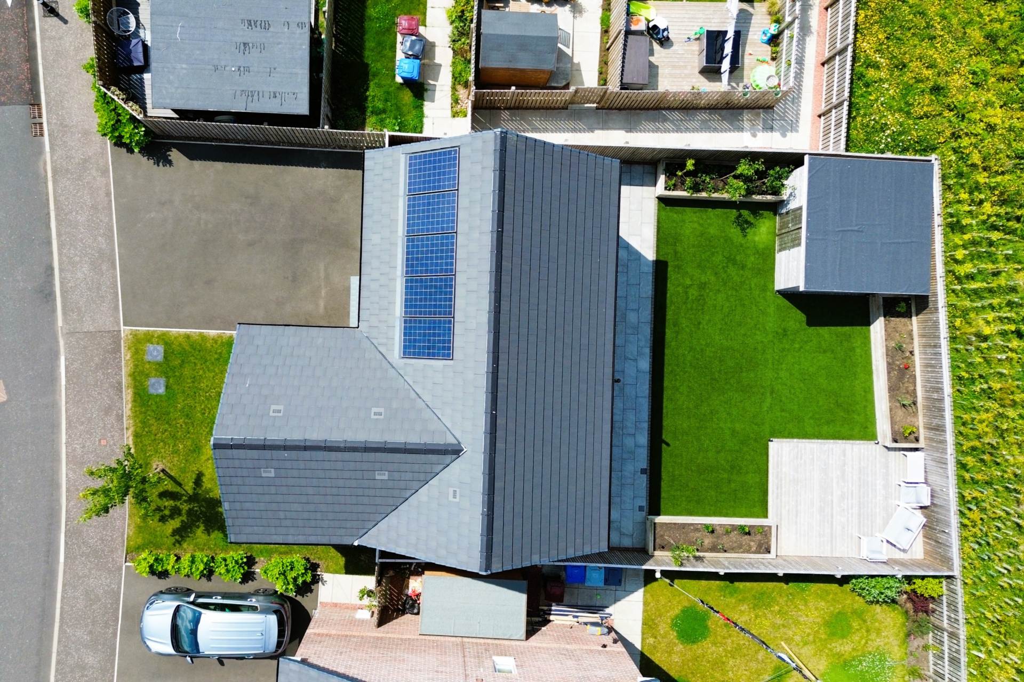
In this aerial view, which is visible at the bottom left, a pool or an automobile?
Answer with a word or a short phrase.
automobile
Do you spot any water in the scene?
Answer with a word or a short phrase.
No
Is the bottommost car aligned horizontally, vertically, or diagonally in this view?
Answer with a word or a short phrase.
horizontally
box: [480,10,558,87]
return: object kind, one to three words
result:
shed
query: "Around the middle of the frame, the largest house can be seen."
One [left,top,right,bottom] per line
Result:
[207,128,626,575]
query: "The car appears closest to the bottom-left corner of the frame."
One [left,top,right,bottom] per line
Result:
[136,588,293,665]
